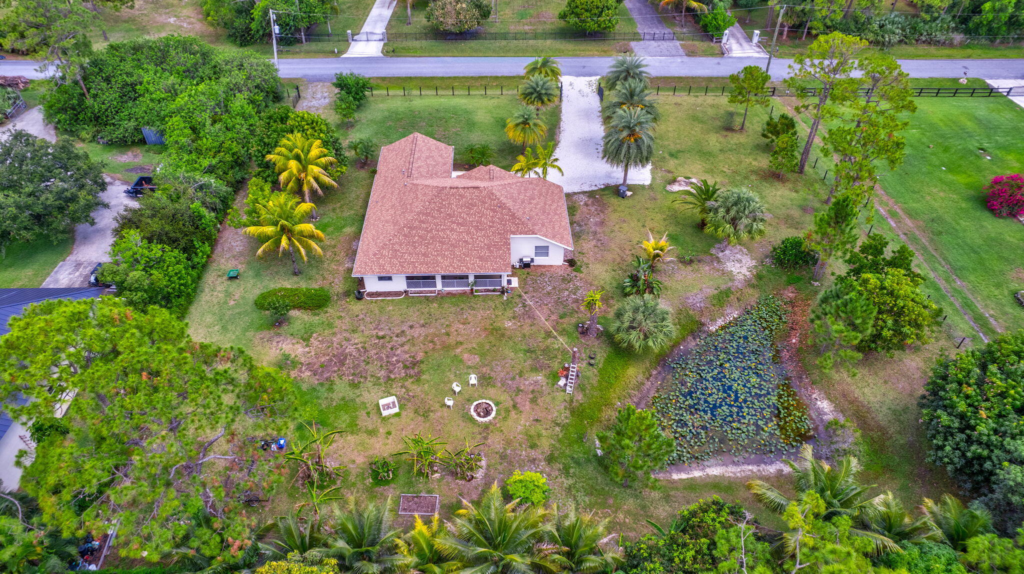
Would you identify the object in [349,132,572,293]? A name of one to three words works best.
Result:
house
